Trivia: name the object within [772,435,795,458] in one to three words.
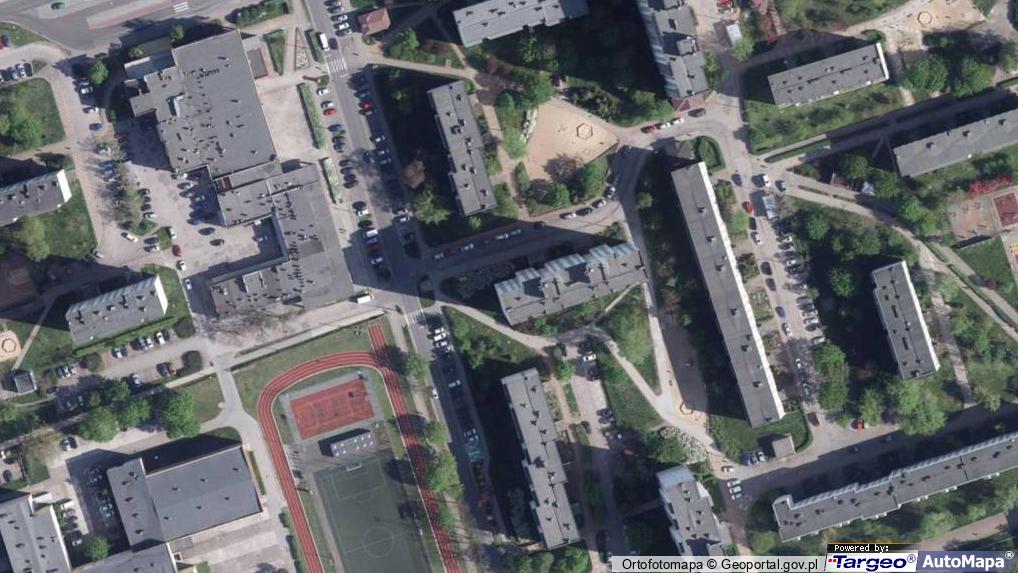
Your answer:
shed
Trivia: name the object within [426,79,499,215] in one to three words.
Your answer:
building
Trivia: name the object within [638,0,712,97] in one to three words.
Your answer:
building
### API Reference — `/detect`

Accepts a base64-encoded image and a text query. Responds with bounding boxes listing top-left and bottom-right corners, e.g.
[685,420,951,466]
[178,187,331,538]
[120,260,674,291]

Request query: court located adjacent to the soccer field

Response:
[279,371,384,446]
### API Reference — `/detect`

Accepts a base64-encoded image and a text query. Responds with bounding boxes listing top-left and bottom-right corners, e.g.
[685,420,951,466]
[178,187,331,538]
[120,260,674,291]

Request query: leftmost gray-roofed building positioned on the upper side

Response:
[0,170,73,222]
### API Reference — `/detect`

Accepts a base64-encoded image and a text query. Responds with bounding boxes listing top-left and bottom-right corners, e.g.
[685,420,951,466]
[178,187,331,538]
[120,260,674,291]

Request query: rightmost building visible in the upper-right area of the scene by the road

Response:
[893,105,1018,176]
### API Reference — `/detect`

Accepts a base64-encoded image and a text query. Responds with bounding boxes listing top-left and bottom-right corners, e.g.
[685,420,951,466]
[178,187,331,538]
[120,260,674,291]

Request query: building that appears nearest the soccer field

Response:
[330,431,375,457]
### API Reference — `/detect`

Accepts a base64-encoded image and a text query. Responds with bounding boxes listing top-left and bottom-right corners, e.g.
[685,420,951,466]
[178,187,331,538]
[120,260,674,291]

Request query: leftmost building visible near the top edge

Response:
[130,28,280,177]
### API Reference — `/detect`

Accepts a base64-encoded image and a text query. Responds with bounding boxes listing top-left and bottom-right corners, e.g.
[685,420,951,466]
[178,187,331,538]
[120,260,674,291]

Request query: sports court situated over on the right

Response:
[992,191,1018,229]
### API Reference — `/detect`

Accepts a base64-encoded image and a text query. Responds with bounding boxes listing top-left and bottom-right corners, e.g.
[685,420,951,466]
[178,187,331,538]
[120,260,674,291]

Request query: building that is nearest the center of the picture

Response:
[498,242,651,325]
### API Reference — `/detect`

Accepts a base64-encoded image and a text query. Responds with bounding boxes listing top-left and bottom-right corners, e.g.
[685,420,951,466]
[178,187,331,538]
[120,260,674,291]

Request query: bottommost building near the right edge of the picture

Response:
[774,432,1018,541]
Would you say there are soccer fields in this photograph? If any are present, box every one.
[315,452,425,573]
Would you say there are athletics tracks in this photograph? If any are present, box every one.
[257,323,460,573]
